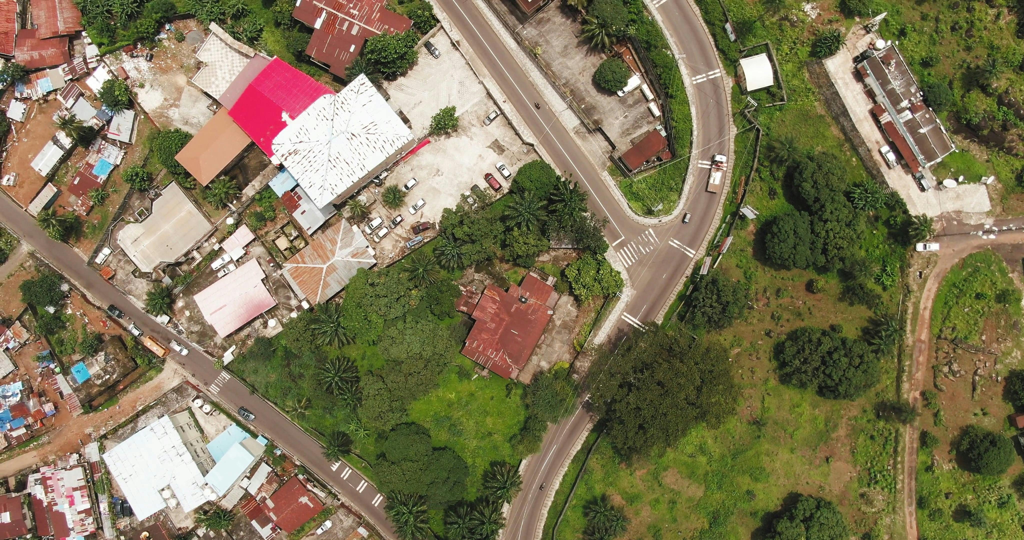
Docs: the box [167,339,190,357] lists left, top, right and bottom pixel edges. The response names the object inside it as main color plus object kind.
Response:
white vehicle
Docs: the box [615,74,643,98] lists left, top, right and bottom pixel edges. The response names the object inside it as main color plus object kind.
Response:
white truck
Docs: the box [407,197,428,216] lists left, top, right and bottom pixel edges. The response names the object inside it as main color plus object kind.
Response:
white car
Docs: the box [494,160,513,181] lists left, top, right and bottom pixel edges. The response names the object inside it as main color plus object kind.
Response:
white car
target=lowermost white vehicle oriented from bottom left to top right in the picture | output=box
[314,518,334,536]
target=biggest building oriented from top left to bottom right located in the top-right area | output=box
[855,45,955,173]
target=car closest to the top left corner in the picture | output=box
[92,247,113,265]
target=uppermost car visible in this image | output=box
[423,41,442,60]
